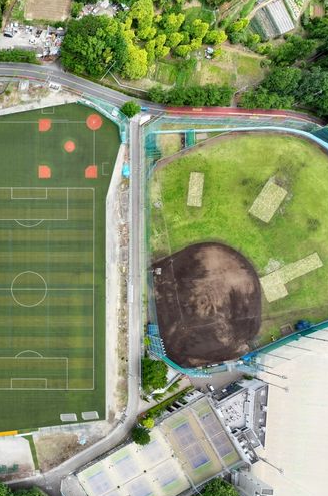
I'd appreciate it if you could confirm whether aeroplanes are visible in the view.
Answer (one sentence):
No, the photo shows no aeroplane.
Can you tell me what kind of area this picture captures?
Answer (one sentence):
What you see here is a sports ground.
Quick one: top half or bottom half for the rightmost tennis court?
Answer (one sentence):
It is in the bottom half that the rightmost tennis court appears.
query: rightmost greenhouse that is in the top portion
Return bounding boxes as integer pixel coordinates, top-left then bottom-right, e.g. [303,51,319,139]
[266,0,293,35]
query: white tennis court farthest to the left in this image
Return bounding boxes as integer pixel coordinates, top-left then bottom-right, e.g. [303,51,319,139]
[79,426,196,496]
